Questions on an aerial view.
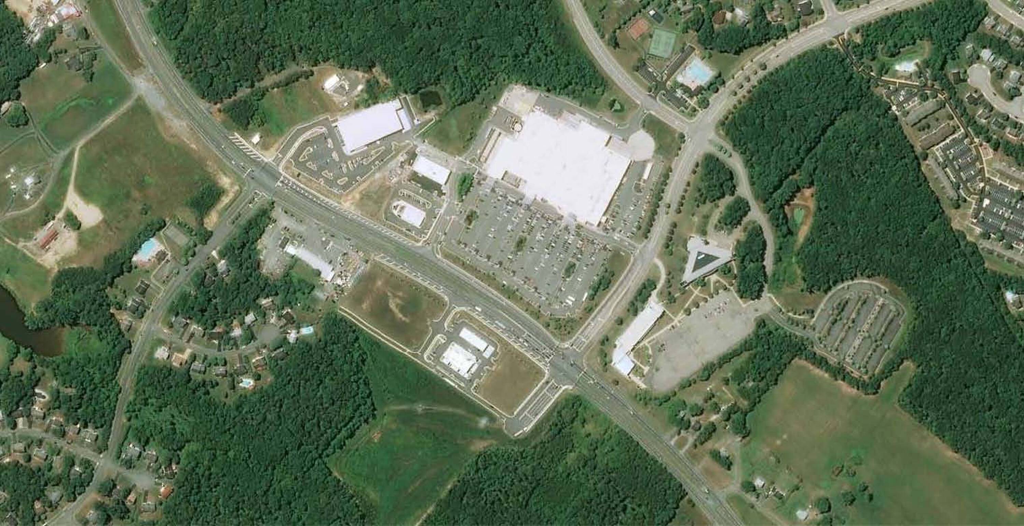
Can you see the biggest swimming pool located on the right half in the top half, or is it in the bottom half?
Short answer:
top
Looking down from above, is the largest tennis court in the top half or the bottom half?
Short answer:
top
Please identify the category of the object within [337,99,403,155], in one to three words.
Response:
building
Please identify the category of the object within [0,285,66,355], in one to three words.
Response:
pond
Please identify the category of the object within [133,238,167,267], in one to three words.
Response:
swimming pool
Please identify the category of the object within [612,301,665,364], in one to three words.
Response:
building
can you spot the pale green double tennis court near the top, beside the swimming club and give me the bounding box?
[648,28,676,58]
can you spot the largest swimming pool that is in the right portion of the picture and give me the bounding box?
[677,57,717,90]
